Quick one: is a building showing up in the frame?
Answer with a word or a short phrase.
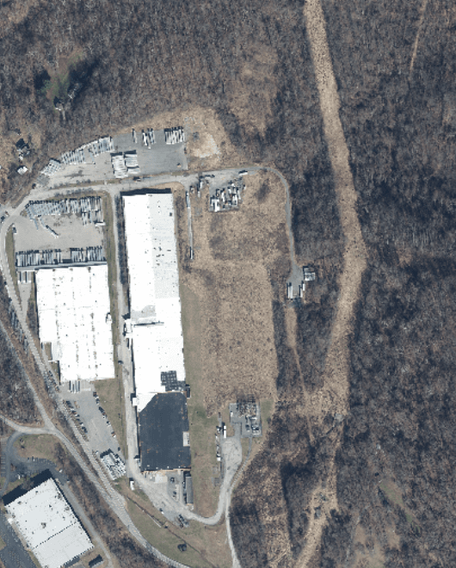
Yes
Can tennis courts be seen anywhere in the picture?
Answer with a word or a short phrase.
No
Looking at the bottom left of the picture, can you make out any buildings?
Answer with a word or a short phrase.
Yes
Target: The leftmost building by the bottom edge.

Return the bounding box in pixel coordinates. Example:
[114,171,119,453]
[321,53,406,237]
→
[4,478,94,568]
